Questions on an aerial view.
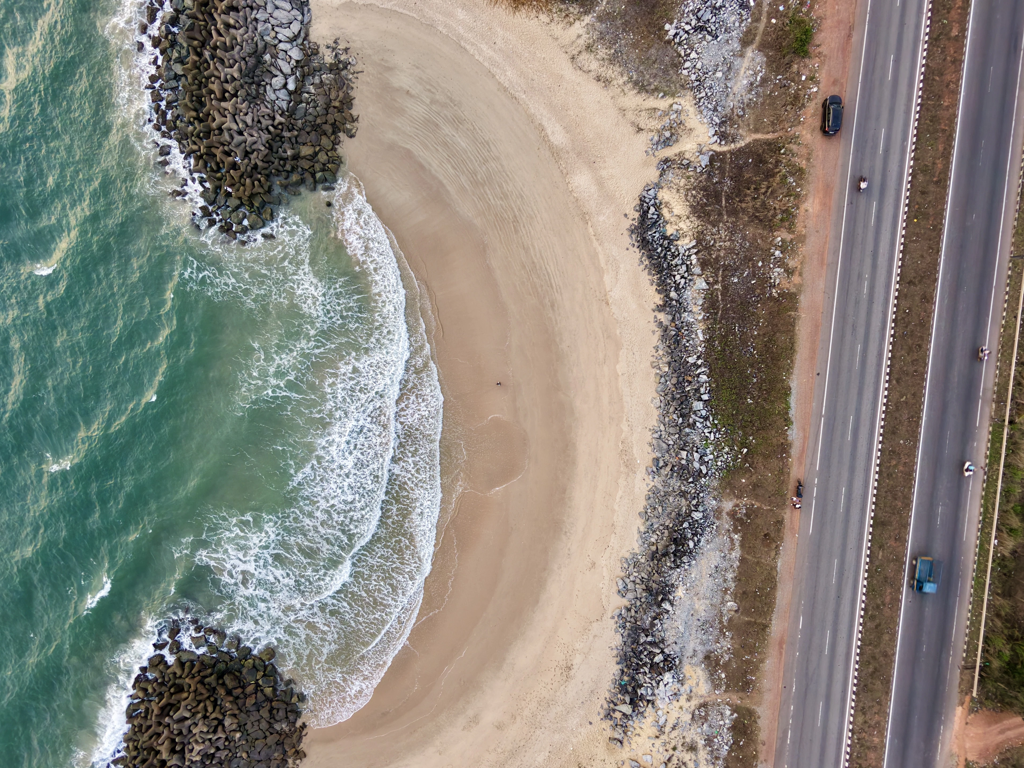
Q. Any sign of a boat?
No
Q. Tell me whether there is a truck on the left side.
No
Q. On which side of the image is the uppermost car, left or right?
right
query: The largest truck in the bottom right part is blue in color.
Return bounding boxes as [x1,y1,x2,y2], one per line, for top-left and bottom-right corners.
[915,560,942,598]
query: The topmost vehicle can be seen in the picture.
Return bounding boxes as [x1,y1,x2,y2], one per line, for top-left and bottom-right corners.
[823,94,846,135]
